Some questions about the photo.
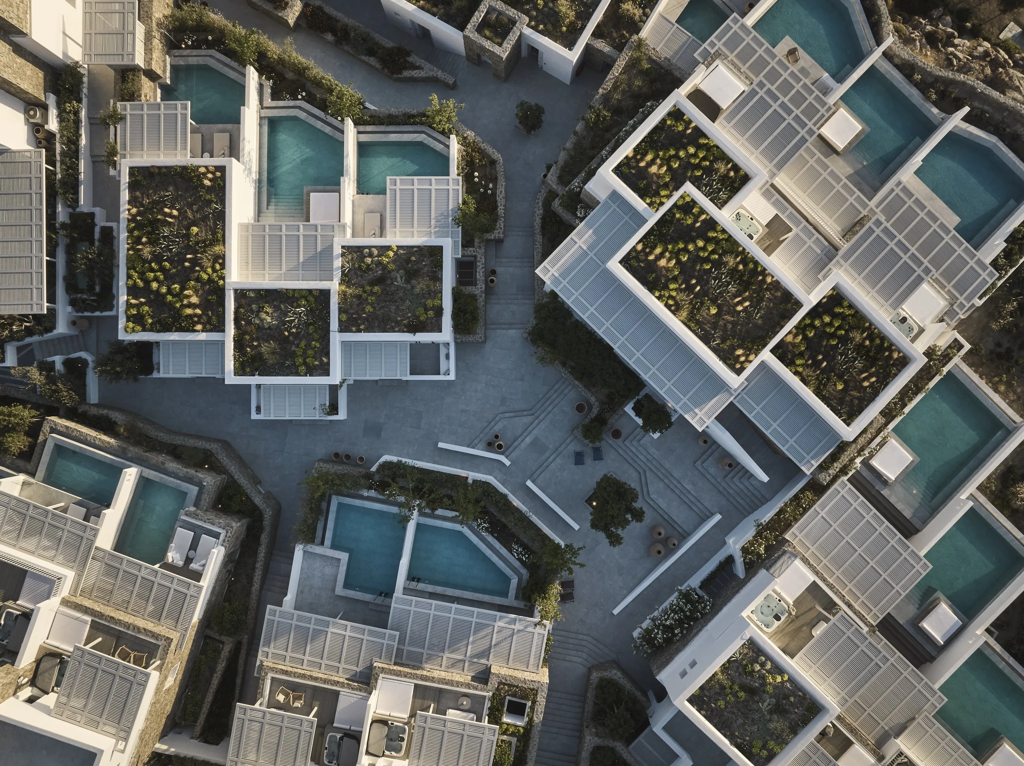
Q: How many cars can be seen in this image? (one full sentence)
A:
The count of cars is 0.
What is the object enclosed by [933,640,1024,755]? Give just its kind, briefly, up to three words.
swimming pool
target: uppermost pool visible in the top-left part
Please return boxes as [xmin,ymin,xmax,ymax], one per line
[161,49,247,124]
